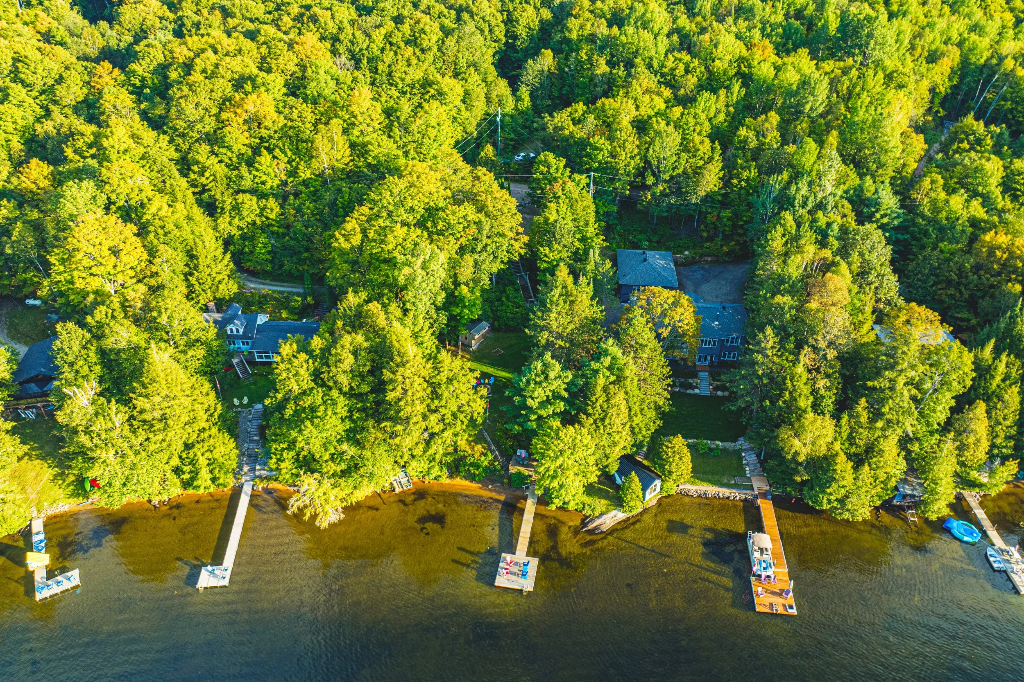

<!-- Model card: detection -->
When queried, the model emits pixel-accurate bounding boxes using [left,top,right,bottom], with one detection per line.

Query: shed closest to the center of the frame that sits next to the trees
[458,317,490,348]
